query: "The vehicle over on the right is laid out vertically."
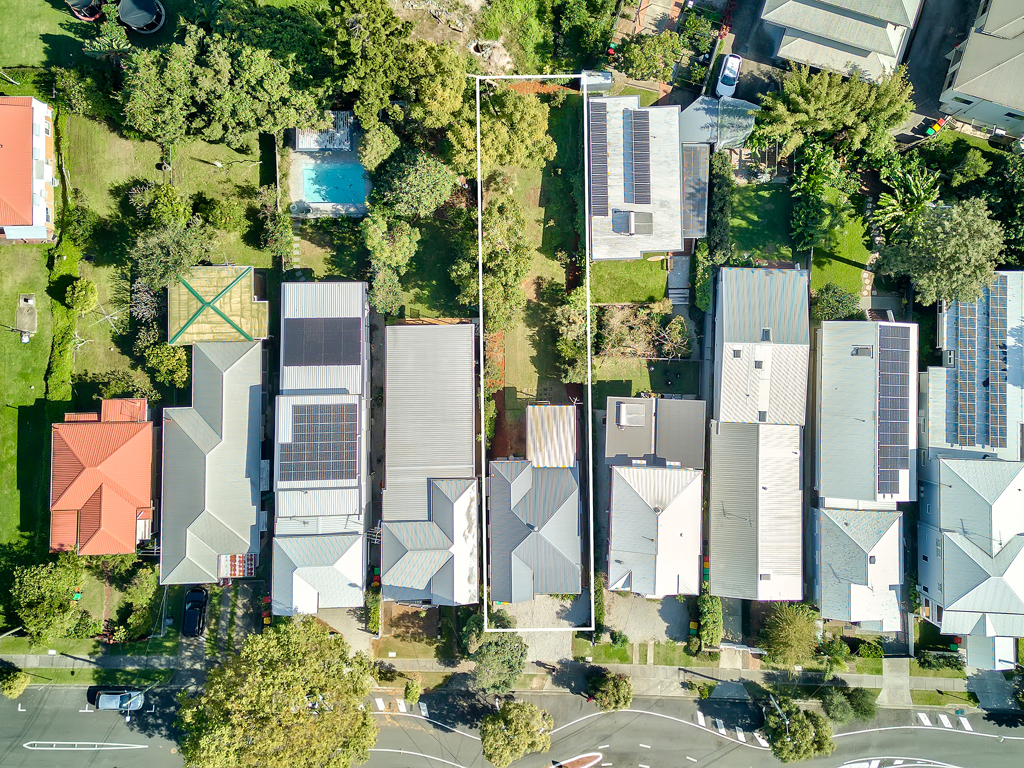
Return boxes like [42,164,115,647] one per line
[716,51,741,99]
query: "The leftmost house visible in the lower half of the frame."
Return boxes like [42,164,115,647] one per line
[49,397,162,556]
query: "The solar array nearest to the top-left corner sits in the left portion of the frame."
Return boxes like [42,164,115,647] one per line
[284,317,360,365]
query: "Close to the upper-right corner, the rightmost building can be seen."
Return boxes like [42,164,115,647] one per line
[923,0,1024,135]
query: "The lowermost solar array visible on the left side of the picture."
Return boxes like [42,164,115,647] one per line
[279,404,357,481]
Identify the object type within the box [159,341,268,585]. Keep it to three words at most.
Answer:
house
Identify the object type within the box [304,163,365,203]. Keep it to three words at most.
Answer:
swimming pool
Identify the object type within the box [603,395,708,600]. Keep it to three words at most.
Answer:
house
